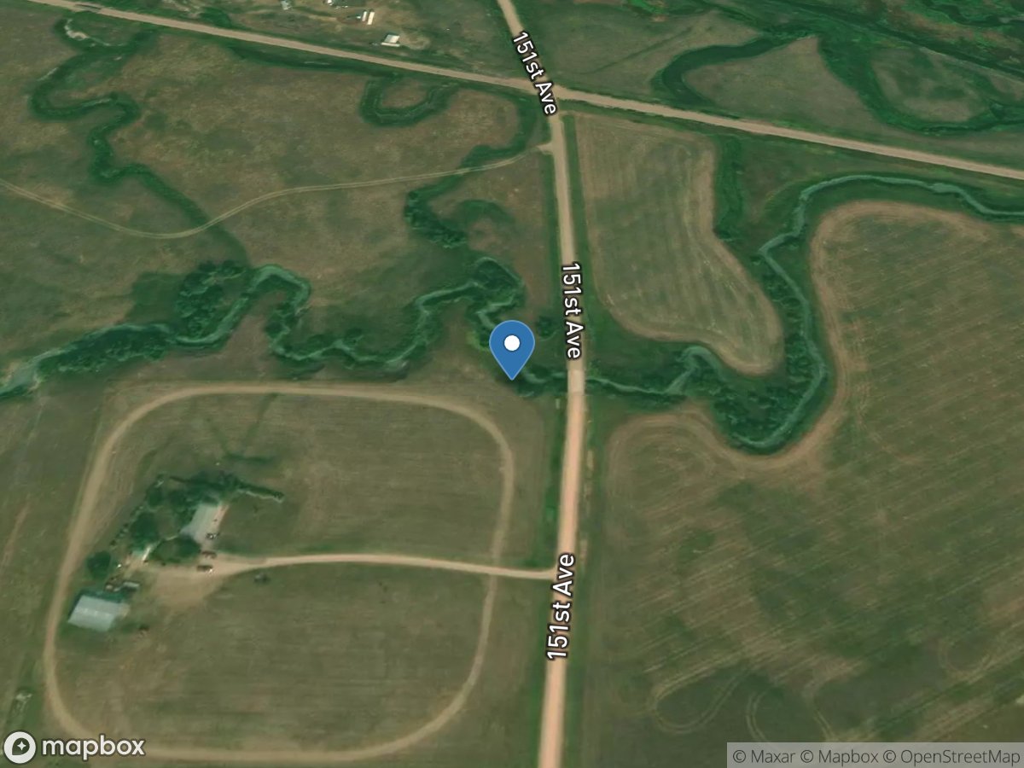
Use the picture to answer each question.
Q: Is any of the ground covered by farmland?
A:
Yes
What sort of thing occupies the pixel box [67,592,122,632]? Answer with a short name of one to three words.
shed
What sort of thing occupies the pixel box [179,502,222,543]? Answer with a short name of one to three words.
house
